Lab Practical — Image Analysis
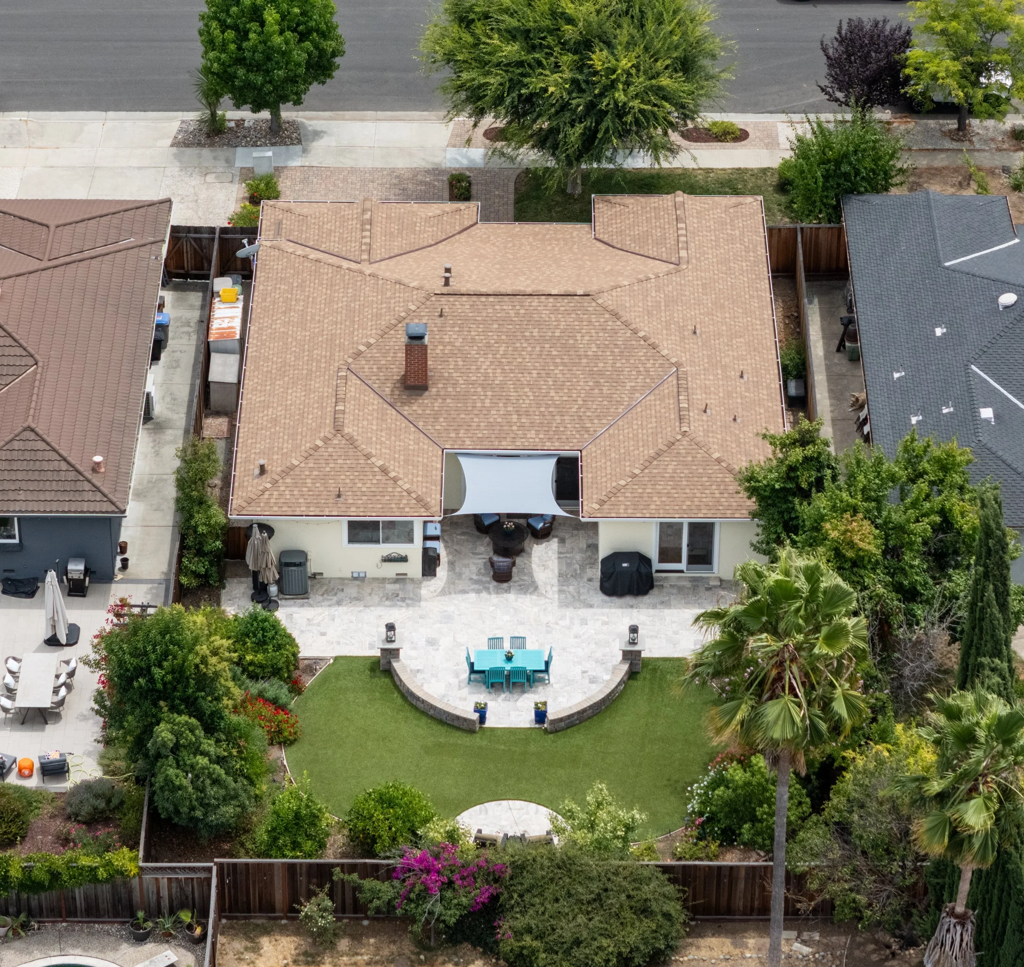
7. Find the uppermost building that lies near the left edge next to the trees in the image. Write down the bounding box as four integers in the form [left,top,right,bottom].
[0,195,175,580]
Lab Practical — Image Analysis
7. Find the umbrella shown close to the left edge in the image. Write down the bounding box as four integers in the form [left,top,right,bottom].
[44,560,80,644]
